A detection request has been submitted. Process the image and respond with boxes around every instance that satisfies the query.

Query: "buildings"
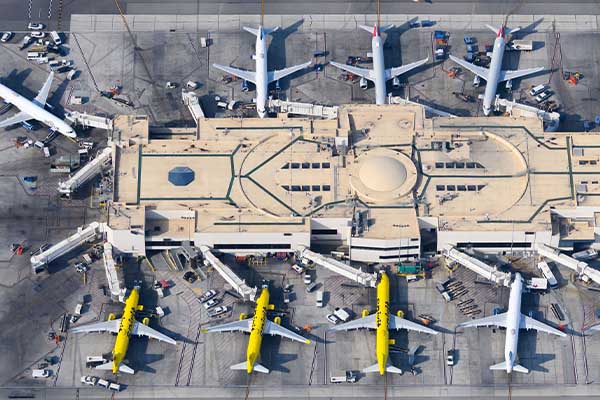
[107,104,600,262]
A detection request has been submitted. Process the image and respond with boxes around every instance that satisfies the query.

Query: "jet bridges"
[442,245,516,288]
[265,99,338,118]
[536,244,600,283]
[202,245,260,303]
[299,245,384,291]
[50,148,112,199]
[490,97,558,132]
[60,110,113,138]
[103,234,133,304]
[29,224,108,275]
[183,86,204,128]
[379,93,461,118]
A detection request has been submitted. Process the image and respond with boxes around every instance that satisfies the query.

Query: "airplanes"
[326,272,434,375]
[69,288,176,375]
[212,16,312,118]
[203,286,309,374]
[0,71,76,137]
[458,273,568,374]
[447,16,547,116]
[327,17,430,104]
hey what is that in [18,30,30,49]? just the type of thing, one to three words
vehicle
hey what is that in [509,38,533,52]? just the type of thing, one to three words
vehicle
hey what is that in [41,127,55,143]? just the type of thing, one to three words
work vehicle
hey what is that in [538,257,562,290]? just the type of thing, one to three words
bus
